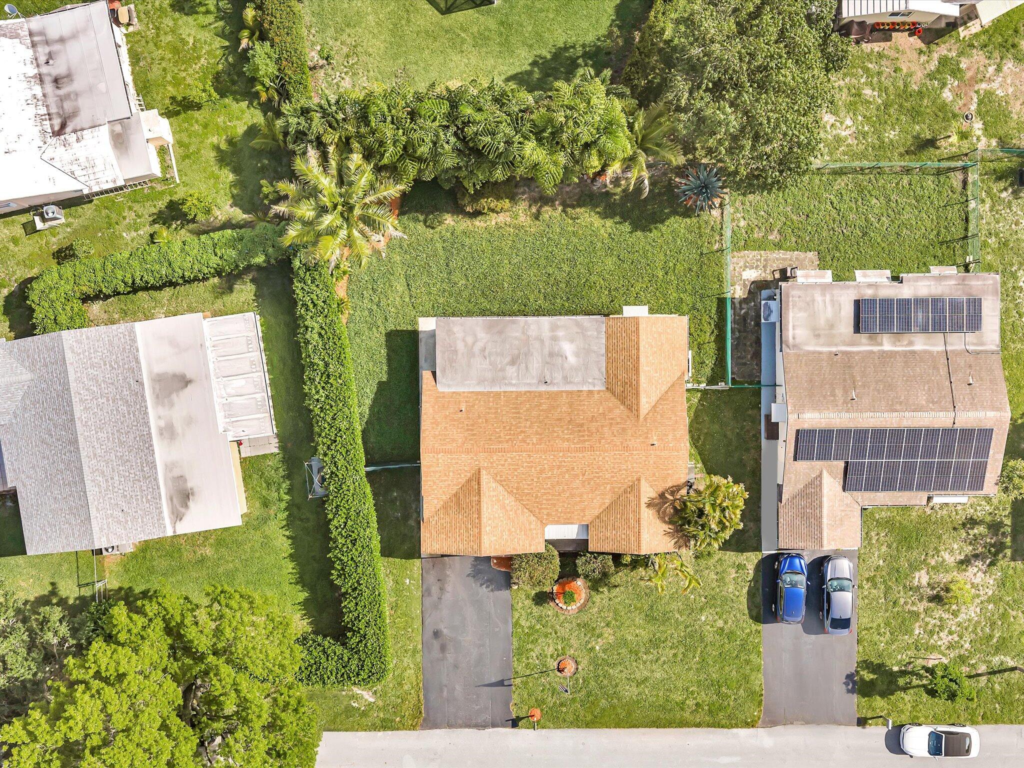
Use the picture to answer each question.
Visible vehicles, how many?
three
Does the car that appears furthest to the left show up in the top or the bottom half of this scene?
bottom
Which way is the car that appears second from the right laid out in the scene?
from top to bottom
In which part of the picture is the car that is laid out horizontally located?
bottom right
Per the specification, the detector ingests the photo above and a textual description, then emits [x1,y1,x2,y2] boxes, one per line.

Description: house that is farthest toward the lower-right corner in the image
[761,266,1011,551]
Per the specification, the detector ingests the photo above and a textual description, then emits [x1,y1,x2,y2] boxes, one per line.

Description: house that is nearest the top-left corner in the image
[0,0,166,216]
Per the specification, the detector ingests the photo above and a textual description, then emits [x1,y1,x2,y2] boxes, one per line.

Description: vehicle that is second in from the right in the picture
[820,555,858,635]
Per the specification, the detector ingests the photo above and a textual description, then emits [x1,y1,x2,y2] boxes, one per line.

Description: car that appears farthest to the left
[774,551,812,623]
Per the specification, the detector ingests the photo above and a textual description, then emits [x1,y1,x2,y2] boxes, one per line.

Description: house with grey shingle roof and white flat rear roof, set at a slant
[0,312,280,559]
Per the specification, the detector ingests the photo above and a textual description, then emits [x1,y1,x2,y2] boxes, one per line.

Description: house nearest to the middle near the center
[420,305,692,556]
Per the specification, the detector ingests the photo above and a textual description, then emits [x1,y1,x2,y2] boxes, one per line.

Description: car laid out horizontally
[897,723,980,763]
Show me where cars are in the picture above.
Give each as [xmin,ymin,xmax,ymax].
[820,555,858,635]
[897,723,980,763]
[774,551,812,623]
